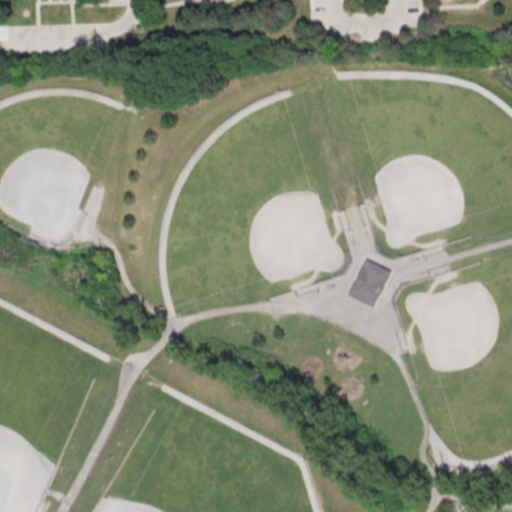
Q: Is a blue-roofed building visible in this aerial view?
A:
No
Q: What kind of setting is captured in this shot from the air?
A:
sports ground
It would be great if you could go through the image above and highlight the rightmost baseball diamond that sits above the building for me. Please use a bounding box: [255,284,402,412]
[337,70,512,250]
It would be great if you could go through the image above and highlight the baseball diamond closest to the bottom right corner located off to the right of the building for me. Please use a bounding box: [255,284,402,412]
[406,273,512,472]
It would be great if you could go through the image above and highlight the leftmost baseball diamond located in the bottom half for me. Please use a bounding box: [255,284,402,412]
[0,298,110,512]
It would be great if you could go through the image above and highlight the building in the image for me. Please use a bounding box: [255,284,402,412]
[349,258,391,306]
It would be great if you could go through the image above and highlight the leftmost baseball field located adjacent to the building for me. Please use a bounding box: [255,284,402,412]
[160,89,345,324]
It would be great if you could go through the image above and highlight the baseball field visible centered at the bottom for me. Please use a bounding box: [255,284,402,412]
[92,384,321,512]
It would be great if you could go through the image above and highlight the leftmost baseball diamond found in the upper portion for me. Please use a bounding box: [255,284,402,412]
[0,88,124,250]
